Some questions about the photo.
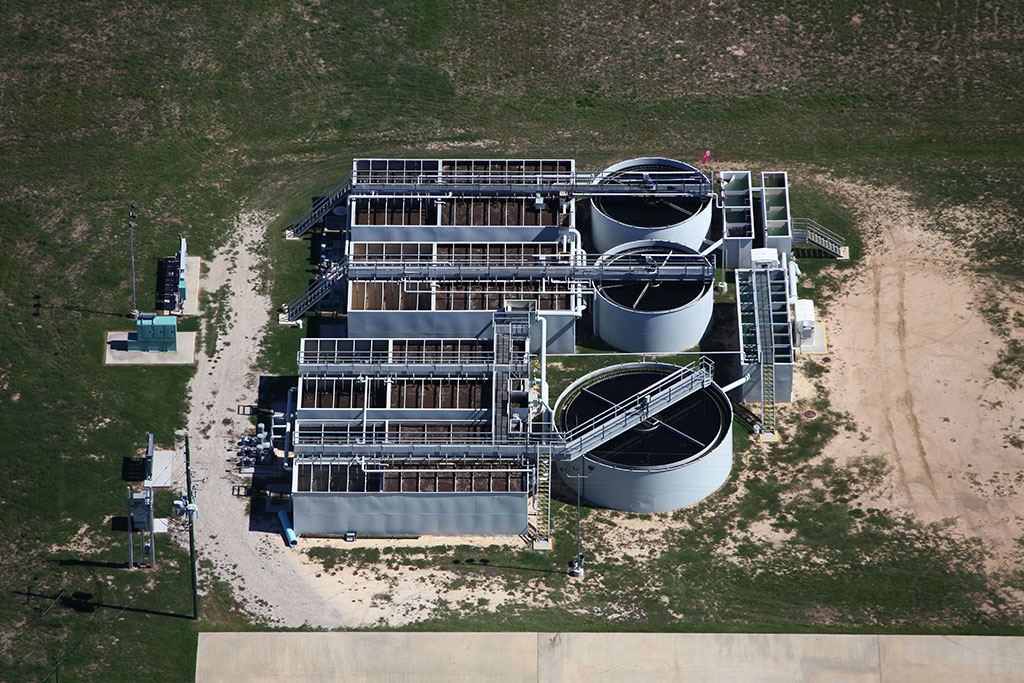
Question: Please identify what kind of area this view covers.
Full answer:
The area seen from above is an industrial area.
